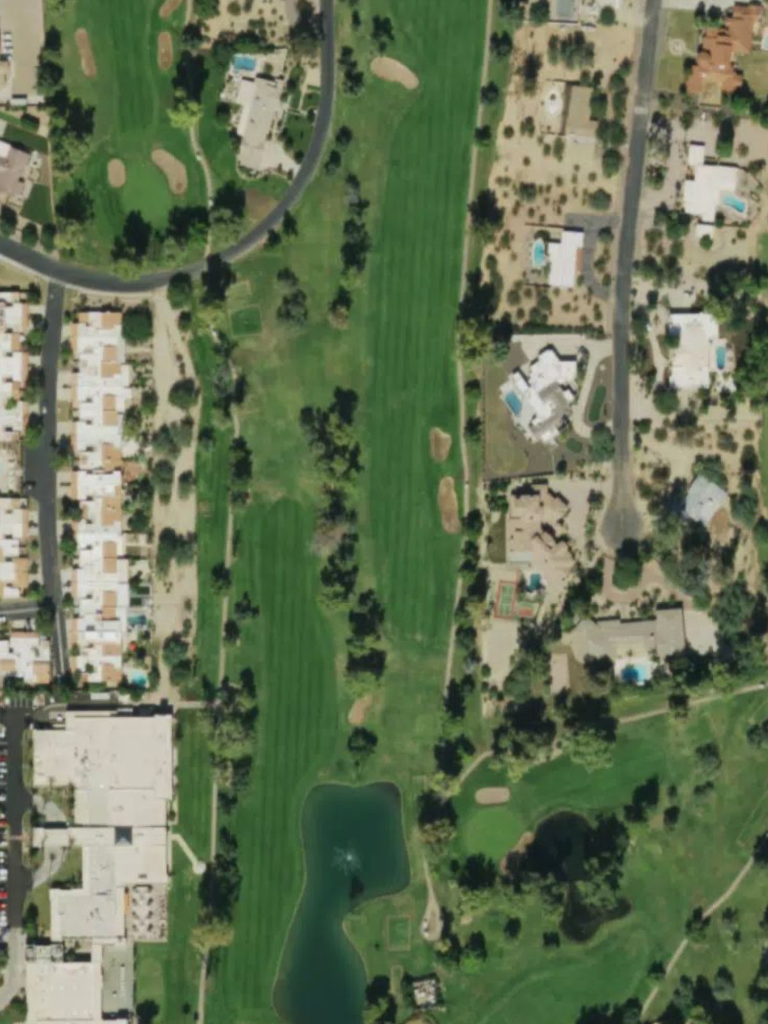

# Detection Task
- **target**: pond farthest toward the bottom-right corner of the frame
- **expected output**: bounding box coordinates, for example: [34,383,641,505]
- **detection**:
[525,810,632,943]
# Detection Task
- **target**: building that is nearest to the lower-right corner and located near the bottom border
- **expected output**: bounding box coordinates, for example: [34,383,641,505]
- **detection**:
[414,981,437,1006]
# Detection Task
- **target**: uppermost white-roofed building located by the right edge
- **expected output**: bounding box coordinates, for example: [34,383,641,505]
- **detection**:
[684,144,738,221]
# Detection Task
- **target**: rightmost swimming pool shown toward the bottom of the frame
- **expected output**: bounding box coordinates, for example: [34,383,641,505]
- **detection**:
[621,665,646,681]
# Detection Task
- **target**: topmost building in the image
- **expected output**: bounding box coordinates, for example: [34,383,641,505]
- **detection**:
[686,5,762,93]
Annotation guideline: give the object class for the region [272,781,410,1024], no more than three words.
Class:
pond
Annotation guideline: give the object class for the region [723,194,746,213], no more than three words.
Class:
swimming pool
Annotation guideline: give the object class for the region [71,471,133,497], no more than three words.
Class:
house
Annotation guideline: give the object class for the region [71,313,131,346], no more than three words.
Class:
house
